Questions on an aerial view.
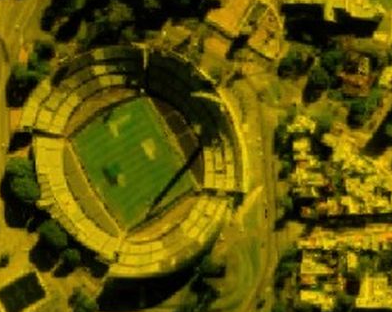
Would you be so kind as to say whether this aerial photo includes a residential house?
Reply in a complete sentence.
Yes, there's a residential house here.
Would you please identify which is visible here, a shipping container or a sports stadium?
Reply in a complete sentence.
The one in the frame is a sports stadium.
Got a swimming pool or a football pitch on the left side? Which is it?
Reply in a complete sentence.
Looking on the left side, you will find a football pitch.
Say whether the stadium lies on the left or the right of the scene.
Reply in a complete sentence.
The stadium appears in the left half of the scene.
